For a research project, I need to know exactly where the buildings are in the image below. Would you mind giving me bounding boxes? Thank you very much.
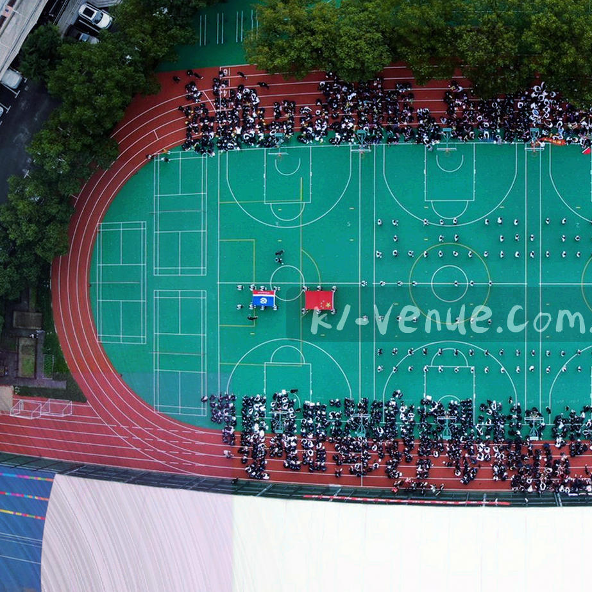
[0,451,592,592]
[0,0,56,77]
